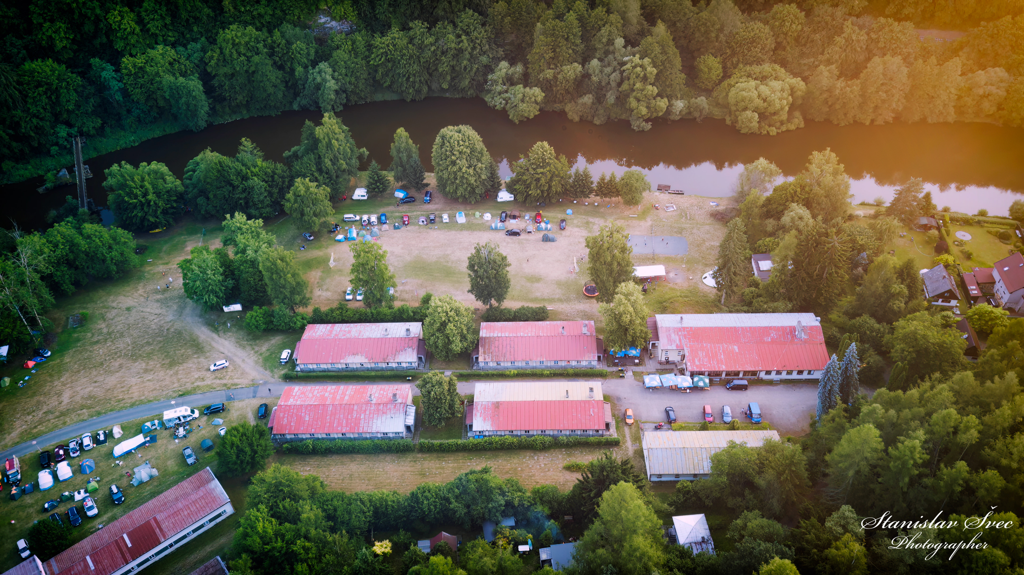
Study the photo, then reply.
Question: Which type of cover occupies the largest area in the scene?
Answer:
trees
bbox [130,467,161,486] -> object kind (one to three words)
tent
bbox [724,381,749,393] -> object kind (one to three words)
vehicle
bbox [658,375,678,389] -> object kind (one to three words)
umbrella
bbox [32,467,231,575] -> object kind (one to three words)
barn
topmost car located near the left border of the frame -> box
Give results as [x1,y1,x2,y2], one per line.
[32,347,52,359]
